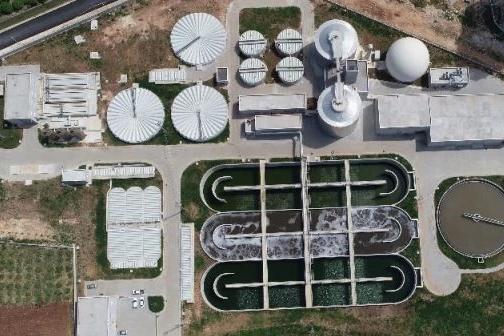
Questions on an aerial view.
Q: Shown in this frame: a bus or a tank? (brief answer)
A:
tank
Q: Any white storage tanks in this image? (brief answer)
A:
Yes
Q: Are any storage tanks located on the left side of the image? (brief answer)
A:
Yes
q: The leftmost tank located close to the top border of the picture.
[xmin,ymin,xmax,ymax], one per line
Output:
[170,14,227,75]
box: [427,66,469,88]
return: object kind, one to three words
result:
building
